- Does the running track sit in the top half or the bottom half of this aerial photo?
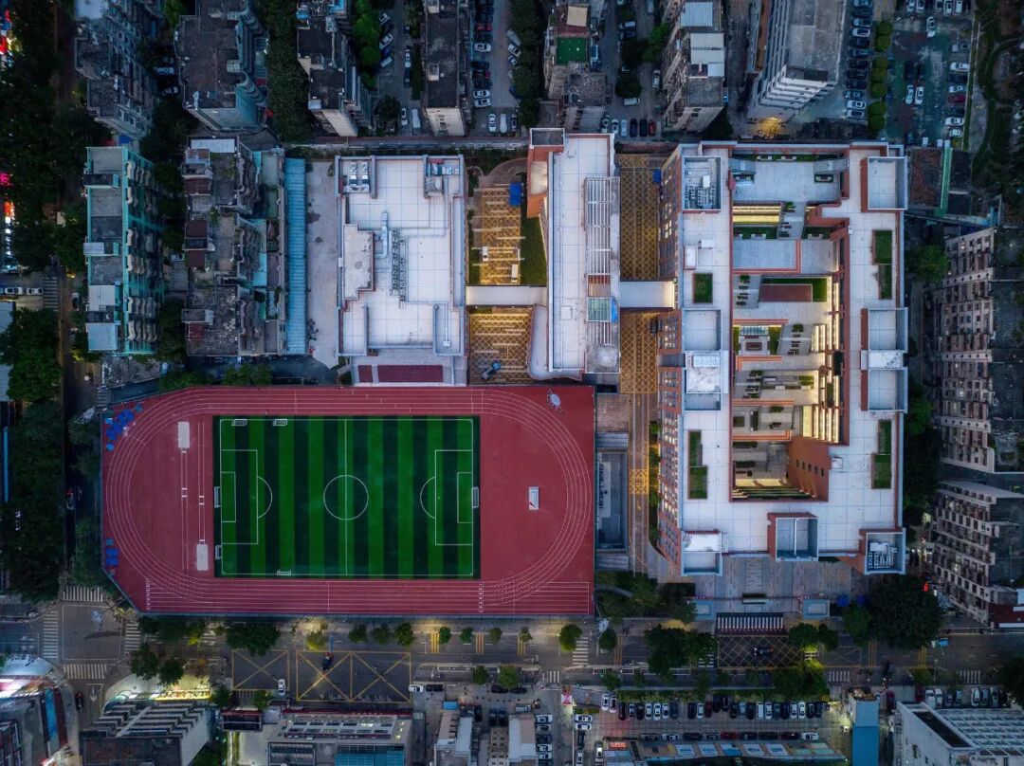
bottom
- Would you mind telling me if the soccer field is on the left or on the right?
left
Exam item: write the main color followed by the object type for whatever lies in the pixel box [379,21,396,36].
black car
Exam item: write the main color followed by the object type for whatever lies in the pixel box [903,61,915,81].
black vehicle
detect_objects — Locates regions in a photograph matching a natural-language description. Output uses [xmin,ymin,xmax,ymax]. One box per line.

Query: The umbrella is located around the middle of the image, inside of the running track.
[545,390,565,409]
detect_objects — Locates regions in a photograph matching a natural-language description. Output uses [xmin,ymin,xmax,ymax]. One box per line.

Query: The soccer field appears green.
[212,416,480,579]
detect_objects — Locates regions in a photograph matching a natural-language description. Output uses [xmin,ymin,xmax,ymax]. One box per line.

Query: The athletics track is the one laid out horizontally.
[101,384,596,615]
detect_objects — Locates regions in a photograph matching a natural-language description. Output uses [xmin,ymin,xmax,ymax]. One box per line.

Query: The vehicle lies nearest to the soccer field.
[476,357,502,382]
